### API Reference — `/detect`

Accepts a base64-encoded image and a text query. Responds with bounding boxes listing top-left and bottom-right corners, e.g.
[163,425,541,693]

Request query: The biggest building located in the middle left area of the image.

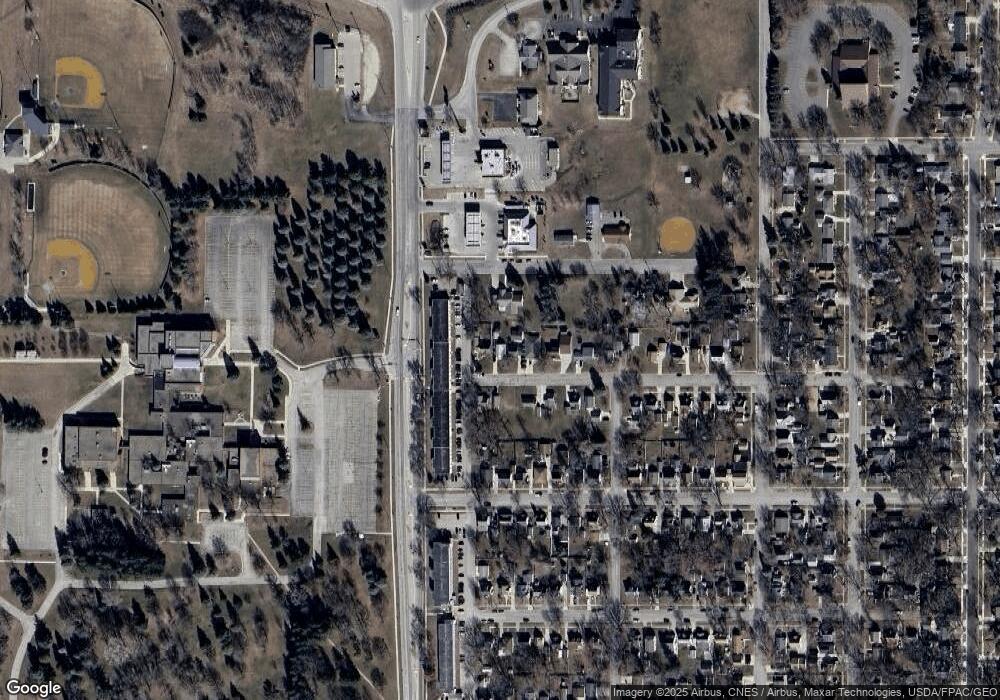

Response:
[63,322,279,515]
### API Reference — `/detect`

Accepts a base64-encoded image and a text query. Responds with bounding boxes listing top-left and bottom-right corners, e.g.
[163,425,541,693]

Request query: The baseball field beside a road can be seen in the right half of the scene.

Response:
[660,217,695,253]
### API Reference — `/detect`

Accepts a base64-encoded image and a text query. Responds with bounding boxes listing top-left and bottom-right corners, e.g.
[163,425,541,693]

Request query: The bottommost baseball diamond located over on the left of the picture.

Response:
[36,163,170,301]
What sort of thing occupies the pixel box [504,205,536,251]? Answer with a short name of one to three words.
building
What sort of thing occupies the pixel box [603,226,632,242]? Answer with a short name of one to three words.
house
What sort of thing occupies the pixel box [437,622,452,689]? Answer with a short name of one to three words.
building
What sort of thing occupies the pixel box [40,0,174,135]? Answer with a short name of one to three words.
baseball field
